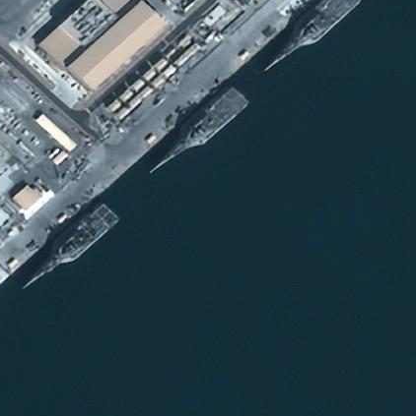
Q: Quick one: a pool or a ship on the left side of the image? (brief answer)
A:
ship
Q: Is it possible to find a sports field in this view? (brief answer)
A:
No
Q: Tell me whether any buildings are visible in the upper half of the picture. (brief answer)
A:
Yes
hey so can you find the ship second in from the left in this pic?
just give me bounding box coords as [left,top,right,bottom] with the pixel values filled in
[136,83,250,172]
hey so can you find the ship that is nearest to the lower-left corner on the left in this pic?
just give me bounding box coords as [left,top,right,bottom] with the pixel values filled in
[20,197,120,288]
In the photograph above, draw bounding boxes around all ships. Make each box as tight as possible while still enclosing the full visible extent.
[136,83,250,172]
[20,197,120,288]
[264,0,364,71]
